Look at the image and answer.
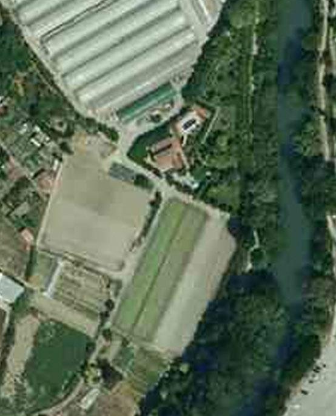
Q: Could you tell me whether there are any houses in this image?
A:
Yes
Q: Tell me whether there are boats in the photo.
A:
No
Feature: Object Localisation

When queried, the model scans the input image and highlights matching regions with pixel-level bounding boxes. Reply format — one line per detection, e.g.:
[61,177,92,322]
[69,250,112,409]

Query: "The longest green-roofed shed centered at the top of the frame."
[117,84,178,122]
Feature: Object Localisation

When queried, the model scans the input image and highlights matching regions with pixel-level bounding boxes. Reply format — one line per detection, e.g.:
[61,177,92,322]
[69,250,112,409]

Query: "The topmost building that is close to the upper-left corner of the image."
[11,0,108,39]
